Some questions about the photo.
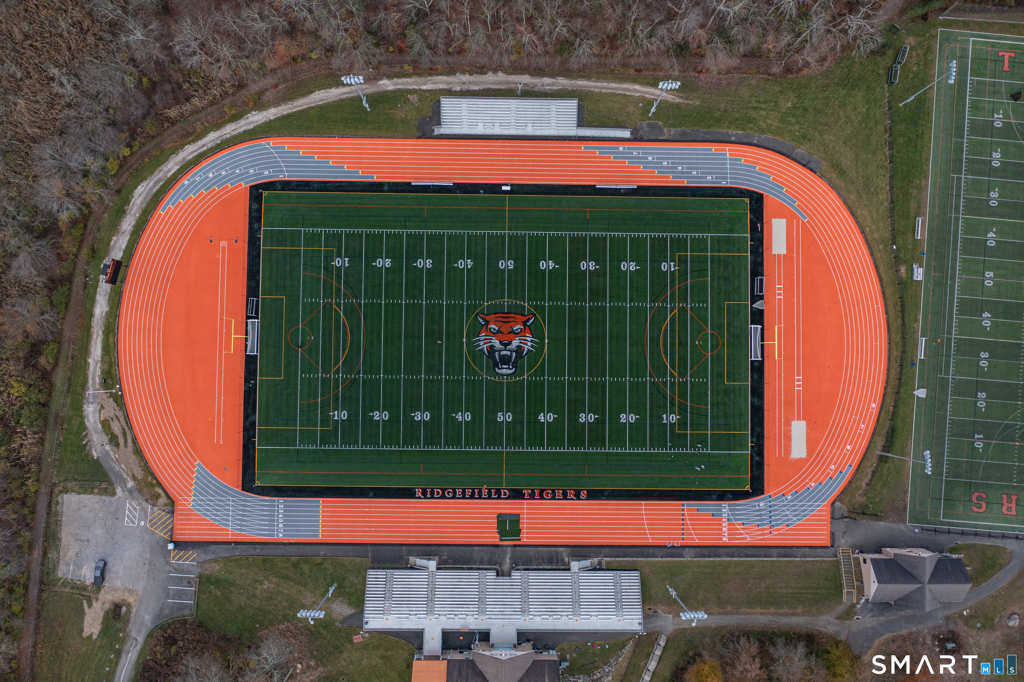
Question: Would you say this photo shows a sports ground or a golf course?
sports ground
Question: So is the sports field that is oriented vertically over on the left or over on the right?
right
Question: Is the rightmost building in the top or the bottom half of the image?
bottom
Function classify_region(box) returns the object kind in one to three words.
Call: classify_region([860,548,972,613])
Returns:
building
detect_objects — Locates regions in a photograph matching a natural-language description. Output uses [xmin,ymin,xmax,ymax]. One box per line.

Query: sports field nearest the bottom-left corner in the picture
[241,180,764,502]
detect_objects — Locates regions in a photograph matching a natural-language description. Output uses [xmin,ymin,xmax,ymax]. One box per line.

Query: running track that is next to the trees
[114,134,891,548]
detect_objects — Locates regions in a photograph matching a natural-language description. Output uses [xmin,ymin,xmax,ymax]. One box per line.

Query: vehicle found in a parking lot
[91,560,105,587]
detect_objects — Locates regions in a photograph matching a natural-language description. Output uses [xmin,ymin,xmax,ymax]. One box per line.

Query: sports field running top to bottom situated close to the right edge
[907,28,1024,534]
